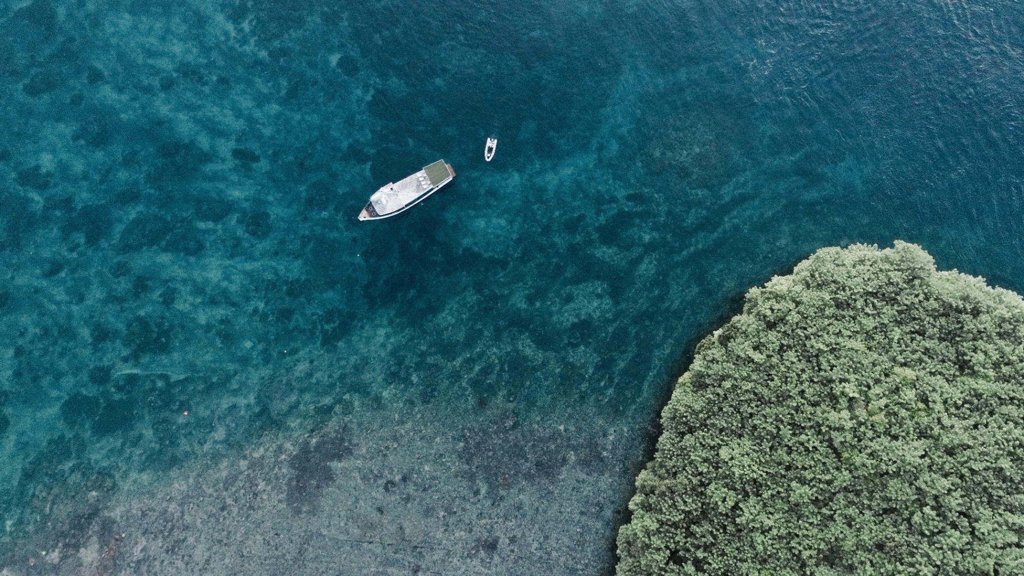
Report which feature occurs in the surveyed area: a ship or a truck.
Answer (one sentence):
I can see a ship in this picture.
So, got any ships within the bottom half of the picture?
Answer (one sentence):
No, no ship appears within the bottom half of the picture.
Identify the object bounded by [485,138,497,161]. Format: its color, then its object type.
white boat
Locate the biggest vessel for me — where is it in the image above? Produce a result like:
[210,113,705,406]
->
[359,160,455,221]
